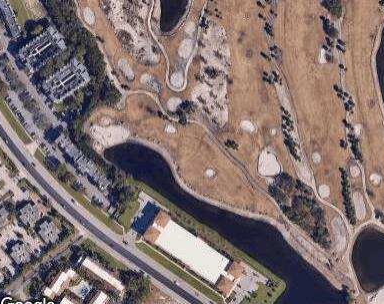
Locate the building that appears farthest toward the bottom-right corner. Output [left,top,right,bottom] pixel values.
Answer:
[144,209,246,299]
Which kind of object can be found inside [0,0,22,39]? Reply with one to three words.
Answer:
building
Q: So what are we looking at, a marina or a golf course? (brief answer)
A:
golf course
